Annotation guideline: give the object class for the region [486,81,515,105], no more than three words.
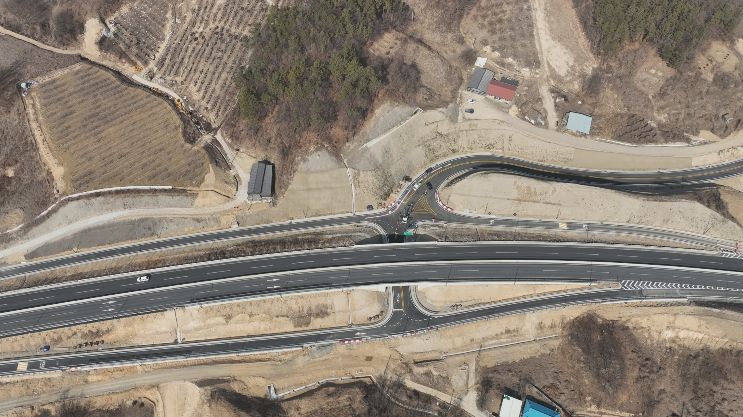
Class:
house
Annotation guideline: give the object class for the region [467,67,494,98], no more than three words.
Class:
house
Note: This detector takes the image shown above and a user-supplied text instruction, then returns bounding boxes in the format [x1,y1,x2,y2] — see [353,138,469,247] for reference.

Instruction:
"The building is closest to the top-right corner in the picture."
[565,112,591,137]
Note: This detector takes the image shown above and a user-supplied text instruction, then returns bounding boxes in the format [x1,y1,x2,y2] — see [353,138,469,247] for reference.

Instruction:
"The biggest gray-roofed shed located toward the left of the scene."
[247,162,274,202]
